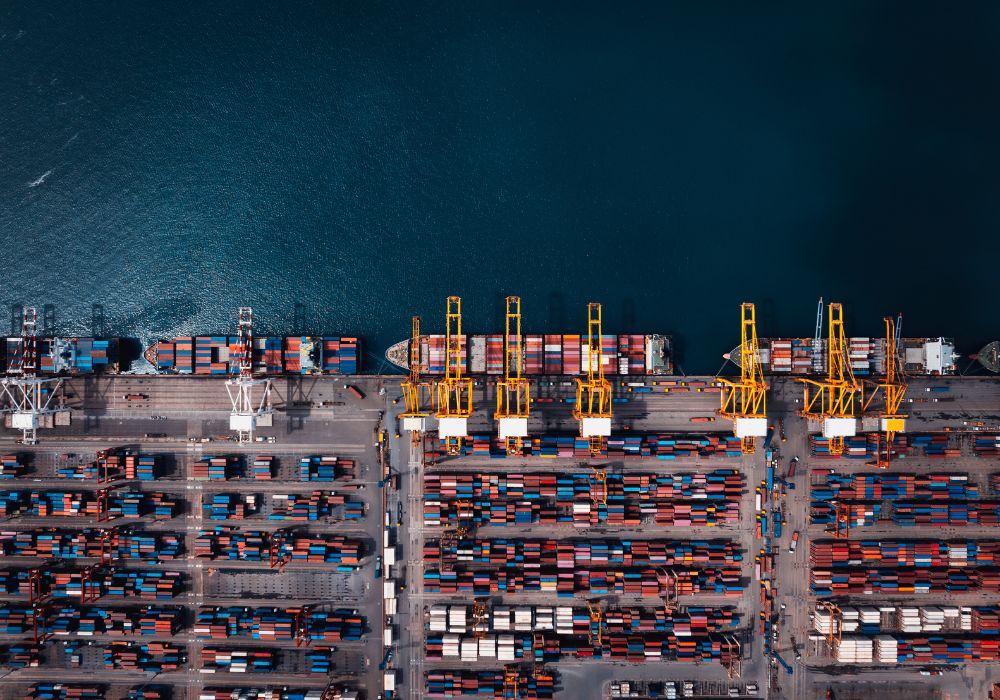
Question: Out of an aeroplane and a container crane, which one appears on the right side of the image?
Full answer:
You can see a container crane on the right side of the image.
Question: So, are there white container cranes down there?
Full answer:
Yes, you can see a white container crane in this photo.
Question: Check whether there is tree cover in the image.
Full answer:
No, there is no tree cover in the image.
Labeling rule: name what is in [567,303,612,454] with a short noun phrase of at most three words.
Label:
container crane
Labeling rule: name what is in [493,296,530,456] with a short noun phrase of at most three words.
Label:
container crane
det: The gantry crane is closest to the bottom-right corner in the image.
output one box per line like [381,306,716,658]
[814,594,843,643]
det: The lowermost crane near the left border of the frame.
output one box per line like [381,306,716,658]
[34,597,65,641]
